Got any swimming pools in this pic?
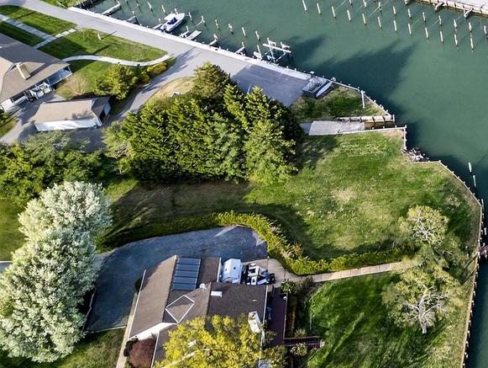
No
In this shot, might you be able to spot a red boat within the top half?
No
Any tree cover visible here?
Yes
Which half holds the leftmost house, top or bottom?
top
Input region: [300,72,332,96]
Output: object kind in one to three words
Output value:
boat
